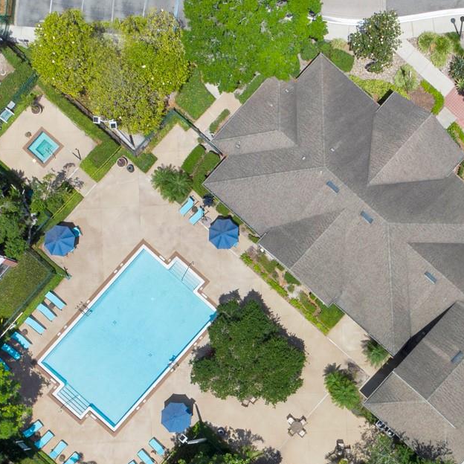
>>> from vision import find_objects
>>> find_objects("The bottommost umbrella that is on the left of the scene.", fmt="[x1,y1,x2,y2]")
[161,401,193,433]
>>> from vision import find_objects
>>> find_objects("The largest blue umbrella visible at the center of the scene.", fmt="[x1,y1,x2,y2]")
[209,218,240,249]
